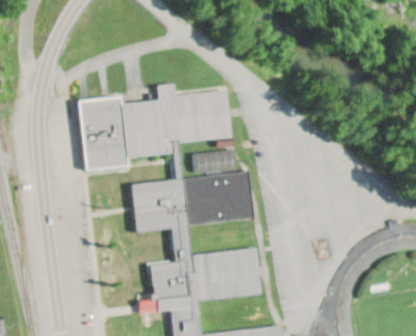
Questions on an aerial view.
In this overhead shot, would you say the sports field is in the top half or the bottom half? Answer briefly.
bottom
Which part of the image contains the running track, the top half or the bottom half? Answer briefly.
bottom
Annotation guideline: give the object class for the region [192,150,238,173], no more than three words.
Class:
greenhouse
